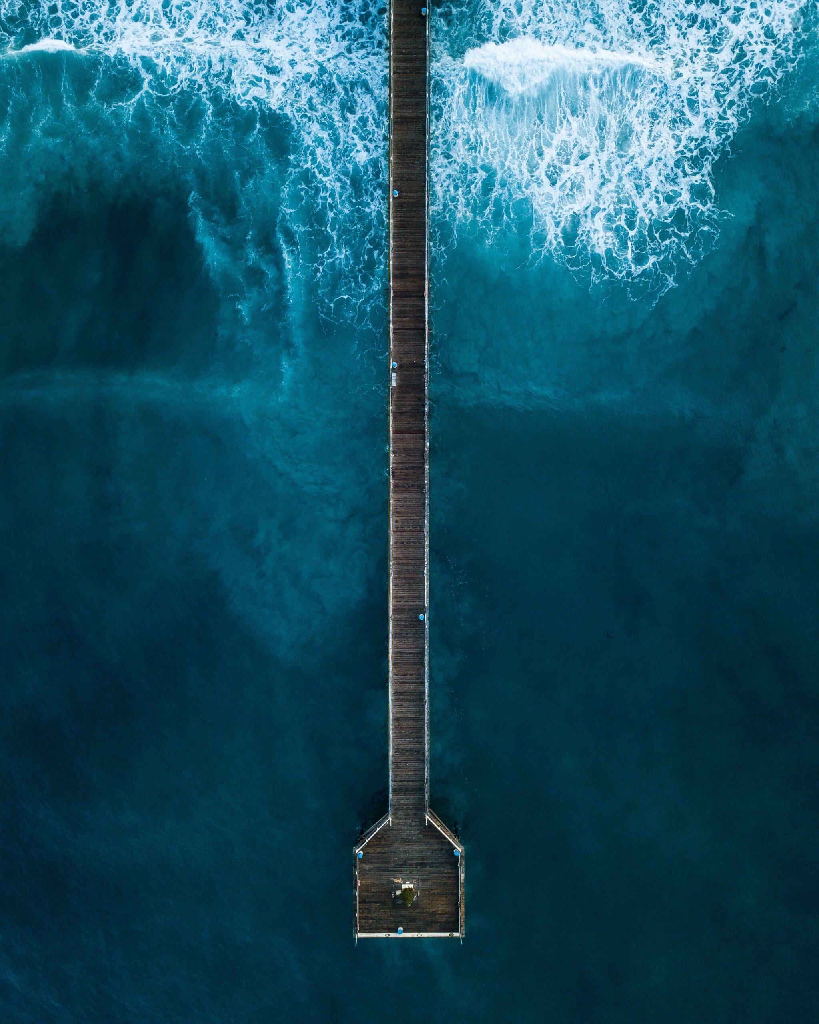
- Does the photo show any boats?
No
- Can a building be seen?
No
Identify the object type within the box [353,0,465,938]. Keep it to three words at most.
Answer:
pier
